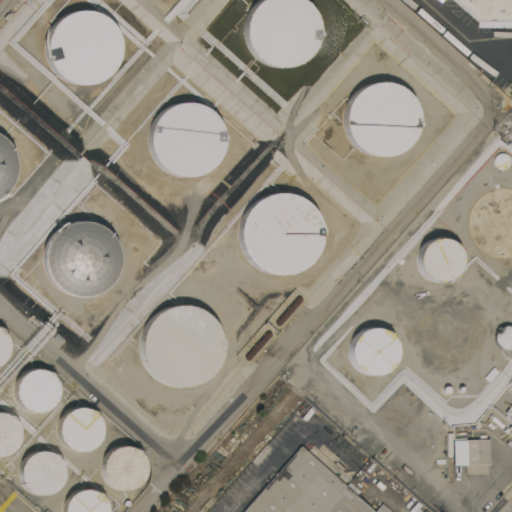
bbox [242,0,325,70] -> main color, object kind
white storage tank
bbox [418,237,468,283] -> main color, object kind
white storage tank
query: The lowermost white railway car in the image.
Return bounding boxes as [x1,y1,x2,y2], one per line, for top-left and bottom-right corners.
[468,54,498,79]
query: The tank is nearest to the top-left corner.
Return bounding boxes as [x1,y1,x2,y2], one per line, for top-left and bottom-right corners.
[43,10,125,88]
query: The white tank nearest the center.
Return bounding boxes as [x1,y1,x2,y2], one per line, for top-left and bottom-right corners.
[239,194,326,276]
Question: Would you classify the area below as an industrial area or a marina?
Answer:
industrial area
